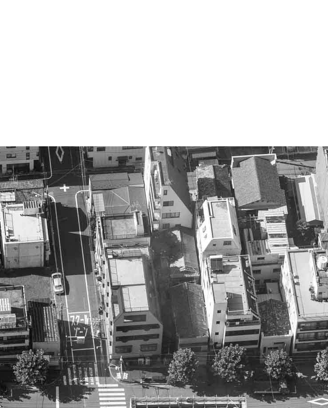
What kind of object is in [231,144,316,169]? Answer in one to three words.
shed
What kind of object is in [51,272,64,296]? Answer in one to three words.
vehicle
